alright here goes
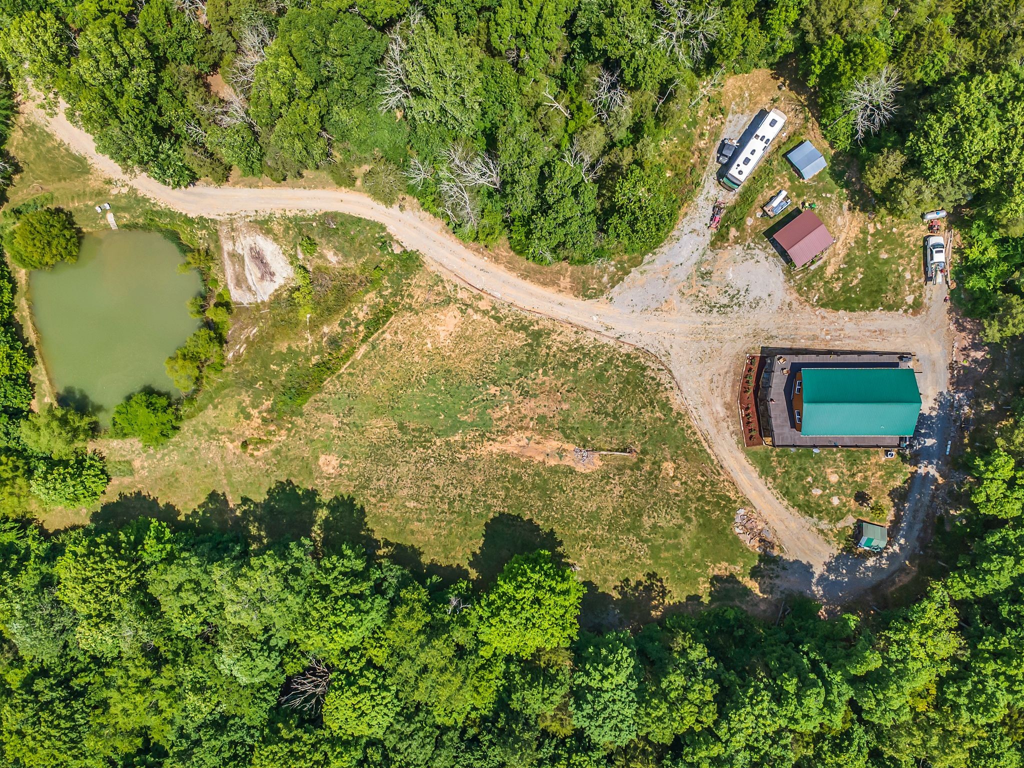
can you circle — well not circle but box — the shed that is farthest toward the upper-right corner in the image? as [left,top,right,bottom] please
[784,141,827,182]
